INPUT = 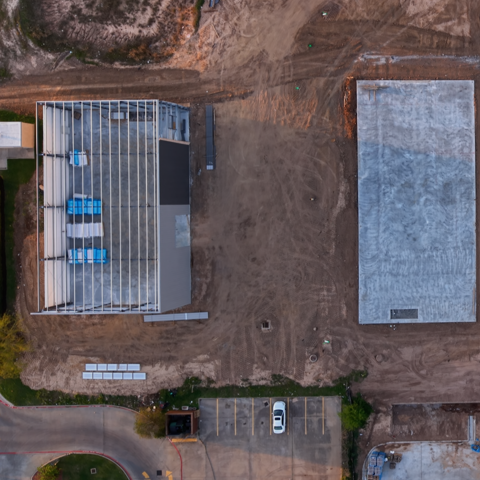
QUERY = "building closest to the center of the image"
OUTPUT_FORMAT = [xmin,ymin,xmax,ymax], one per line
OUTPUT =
[29,98,192,315]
